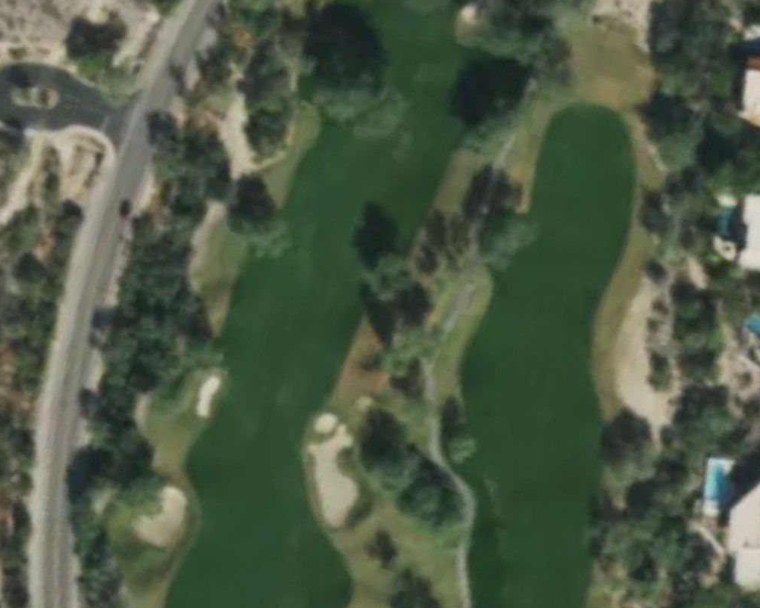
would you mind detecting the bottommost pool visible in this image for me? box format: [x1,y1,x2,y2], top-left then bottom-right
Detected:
[703,458,734,516]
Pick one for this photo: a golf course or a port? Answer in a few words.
golf course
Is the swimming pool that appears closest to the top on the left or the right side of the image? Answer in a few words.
right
